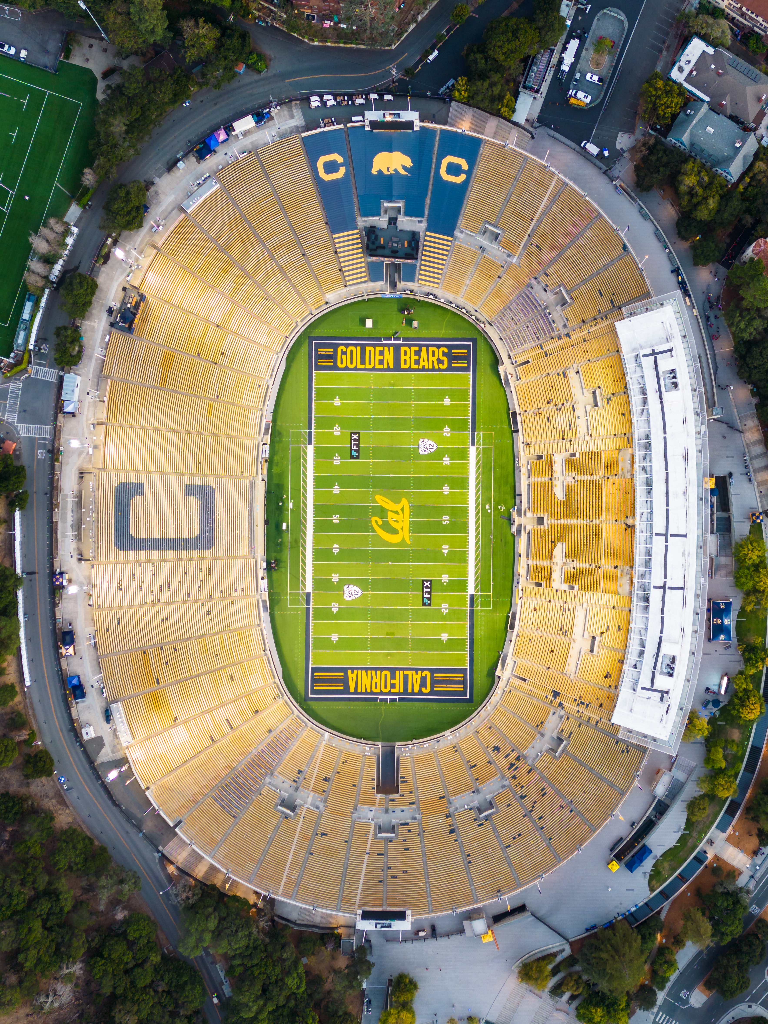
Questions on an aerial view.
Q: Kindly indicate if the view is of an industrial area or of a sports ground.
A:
sports ground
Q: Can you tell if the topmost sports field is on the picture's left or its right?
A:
left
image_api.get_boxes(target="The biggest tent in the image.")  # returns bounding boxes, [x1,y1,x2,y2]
[708,600,732,641]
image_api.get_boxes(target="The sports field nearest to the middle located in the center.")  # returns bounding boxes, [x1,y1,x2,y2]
[265,297,516,740]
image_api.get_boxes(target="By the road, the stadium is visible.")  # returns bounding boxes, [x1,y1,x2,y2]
[53,99,655,920]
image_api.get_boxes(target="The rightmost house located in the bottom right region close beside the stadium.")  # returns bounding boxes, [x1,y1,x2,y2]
[648,767,675,800]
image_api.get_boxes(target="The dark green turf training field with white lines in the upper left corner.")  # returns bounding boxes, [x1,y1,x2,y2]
[0,57,99,358]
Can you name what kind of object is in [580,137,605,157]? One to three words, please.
vehicle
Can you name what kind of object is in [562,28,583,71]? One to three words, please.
truck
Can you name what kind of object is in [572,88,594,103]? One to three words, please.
vehicle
